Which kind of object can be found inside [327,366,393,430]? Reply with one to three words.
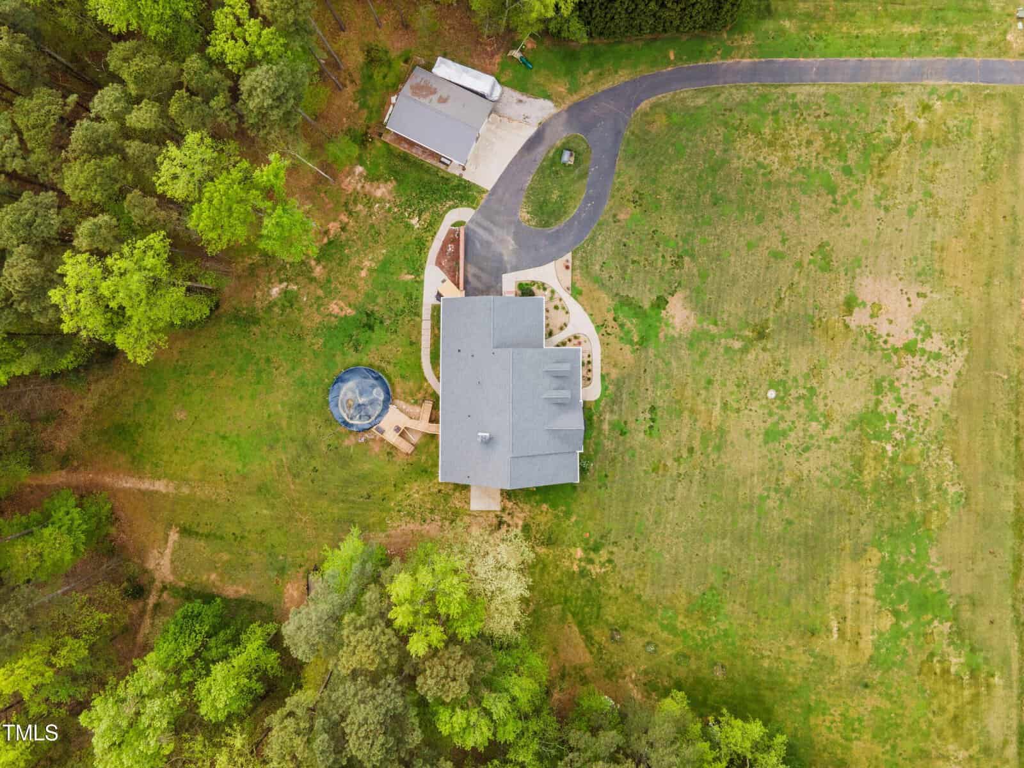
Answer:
swimming pool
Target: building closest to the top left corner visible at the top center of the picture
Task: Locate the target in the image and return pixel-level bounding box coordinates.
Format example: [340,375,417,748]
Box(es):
[388,64,494,166]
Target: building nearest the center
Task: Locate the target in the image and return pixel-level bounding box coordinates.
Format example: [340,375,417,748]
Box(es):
[438,296,586,489]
